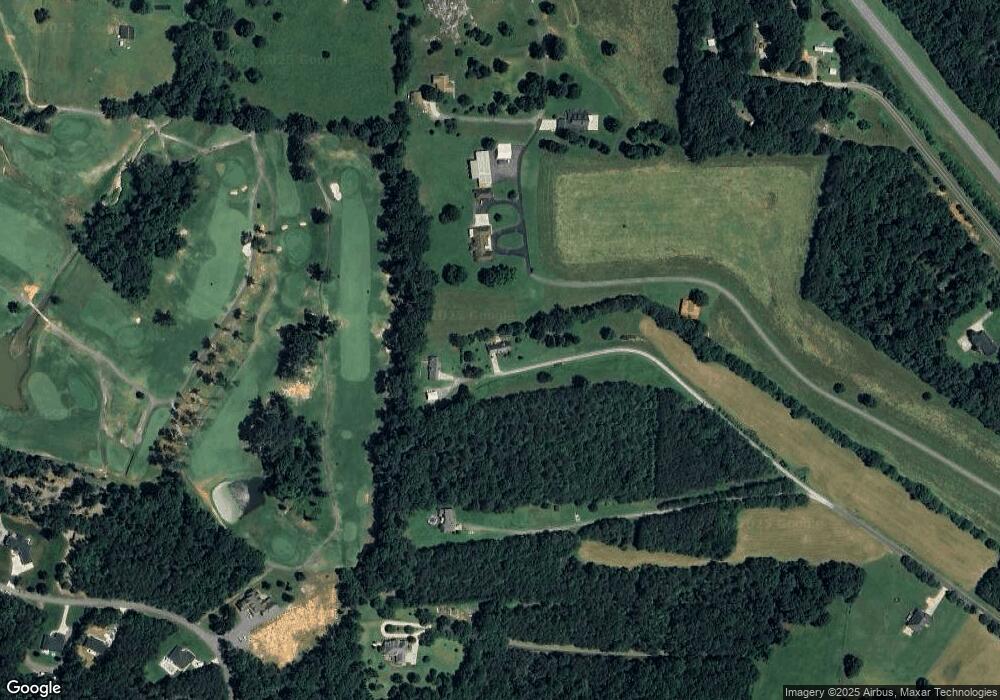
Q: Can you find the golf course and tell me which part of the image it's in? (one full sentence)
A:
The golf course appears toward the left of the photo.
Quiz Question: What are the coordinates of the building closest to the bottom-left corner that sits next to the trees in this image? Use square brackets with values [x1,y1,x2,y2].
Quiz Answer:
[41,634,64,650]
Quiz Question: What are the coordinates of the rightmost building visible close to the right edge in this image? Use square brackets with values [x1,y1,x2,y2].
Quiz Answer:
[971,329,997,354]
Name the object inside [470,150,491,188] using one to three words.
barn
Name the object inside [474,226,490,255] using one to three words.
house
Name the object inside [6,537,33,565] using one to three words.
house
